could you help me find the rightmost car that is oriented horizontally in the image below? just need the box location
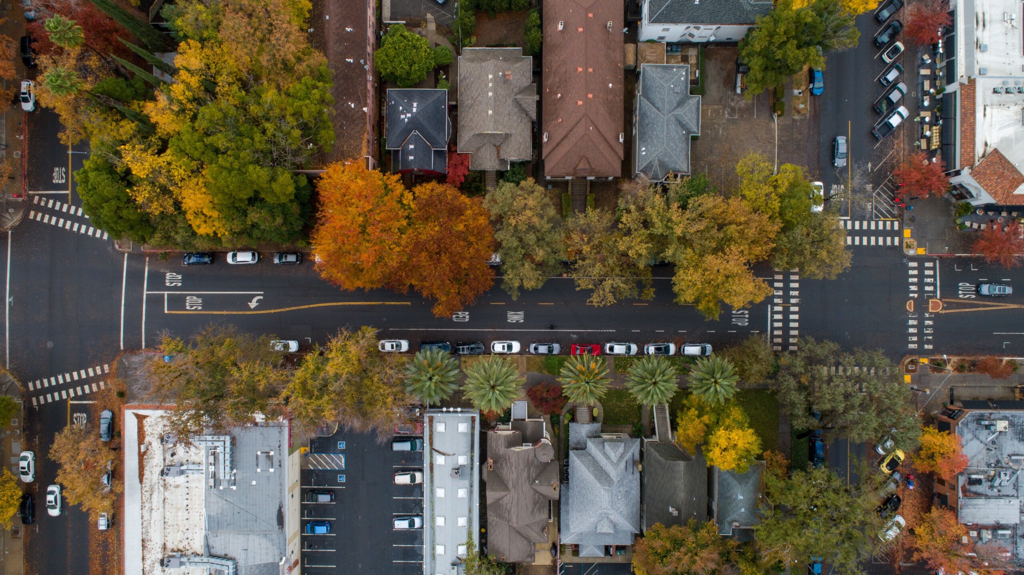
[979,282,1012,297]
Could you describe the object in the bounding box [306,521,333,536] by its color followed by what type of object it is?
blue car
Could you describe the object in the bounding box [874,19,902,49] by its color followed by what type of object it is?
black car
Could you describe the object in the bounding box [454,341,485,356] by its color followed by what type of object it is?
black car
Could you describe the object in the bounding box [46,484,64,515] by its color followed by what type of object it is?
white car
